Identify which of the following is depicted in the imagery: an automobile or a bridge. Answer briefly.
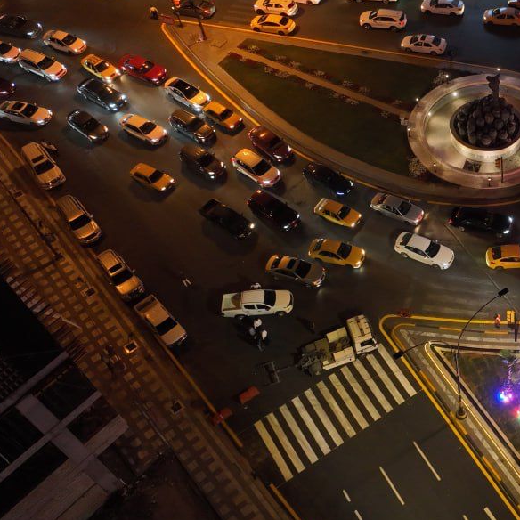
automobile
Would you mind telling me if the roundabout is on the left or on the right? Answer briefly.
right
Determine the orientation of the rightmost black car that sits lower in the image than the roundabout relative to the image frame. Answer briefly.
horizontally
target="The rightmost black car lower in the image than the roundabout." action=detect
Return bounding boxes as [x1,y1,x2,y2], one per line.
[452,206,510,236]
